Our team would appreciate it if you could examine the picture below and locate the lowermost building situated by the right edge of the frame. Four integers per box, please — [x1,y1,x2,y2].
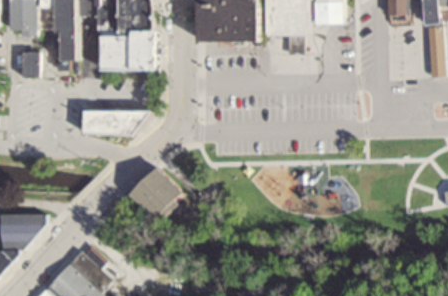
[430,26,445,77]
